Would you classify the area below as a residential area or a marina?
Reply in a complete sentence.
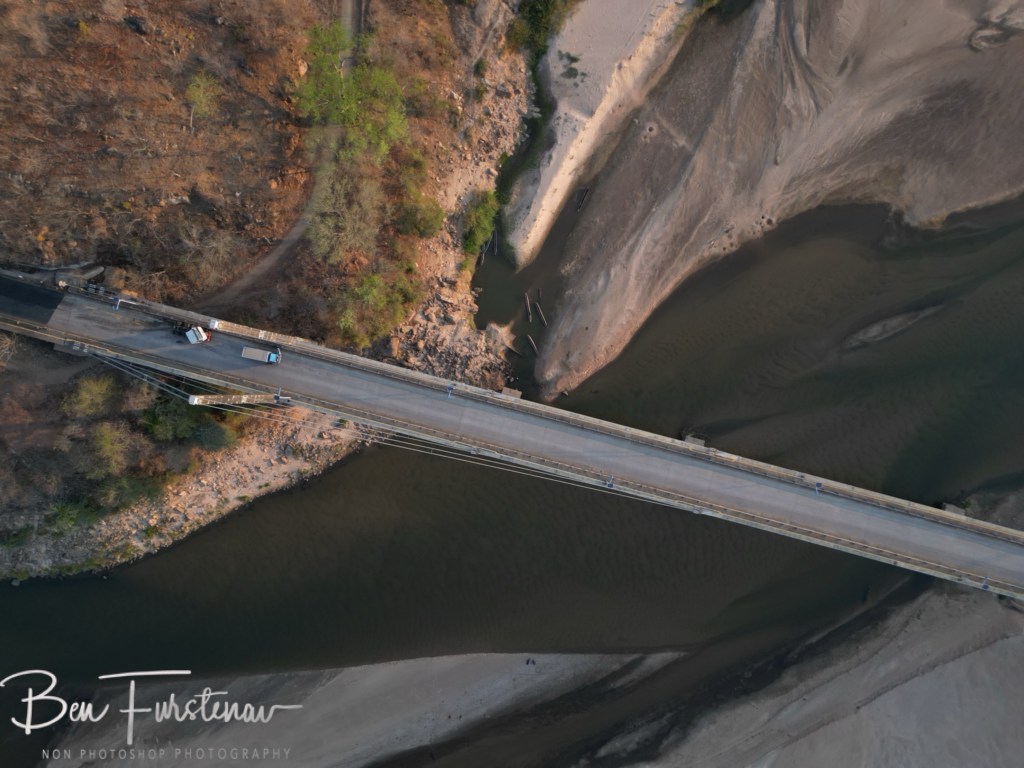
The area seen from above is a marina.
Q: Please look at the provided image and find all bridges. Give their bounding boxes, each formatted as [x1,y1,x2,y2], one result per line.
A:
[49,281,1024,599]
